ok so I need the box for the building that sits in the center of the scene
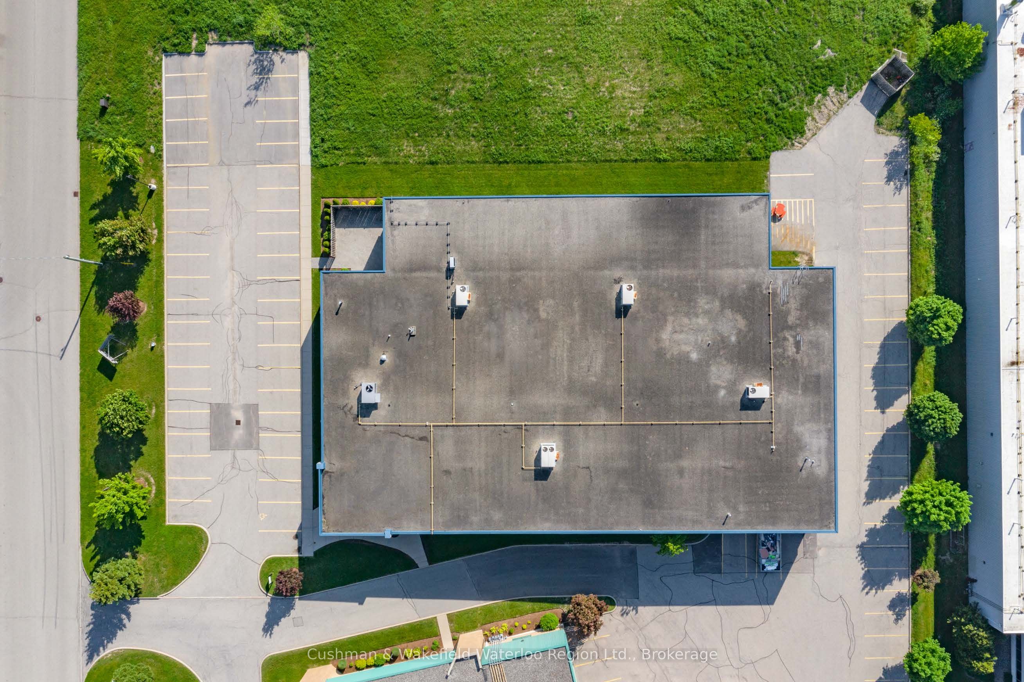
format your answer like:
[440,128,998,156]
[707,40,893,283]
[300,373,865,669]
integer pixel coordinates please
[318,193,838,537]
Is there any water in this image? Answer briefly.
No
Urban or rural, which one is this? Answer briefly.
urban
